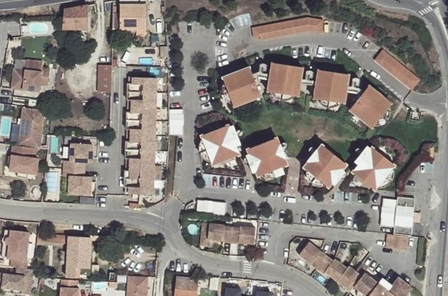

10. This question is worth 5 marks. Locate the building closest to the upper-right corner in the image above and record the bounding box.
[374,49,420,90]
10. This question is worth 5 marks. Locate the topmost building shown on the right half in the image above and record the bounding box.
[252,17,323,40]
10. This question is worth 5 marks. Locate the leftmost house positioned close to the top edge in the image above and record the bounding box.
[62,4,88,32]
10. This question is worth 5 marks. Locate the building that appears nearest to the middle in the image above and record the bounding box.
[200,126,242,168]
